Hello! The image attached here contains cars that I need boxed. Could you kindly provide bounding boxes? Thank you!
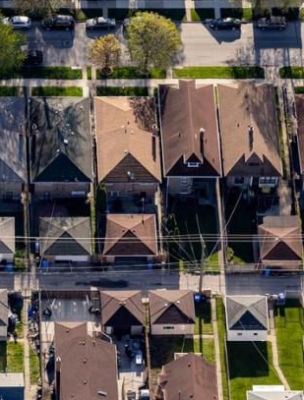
[3,15,30,28]
[122,14,152,28]
[257,14,288,29]
[44,14,74,29]
[85,16,115,30]
[209,16,239,30]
